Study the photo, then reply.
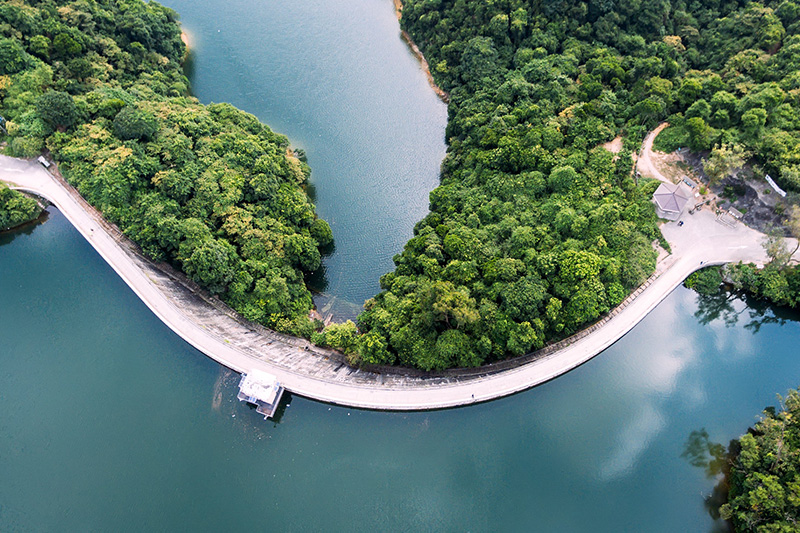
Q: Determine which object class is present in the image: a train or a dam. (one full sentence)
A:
This aerial view contains a dam.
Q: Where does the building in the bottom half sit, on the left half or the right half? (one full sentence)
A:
The building in the bottom half is on the left side of the image.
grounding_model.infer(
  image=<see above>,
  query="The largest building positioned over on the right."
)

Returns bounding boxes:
[646,184,690,220]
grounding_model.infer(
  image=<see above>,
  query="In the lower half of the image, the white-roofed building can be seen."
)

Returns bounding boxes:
[235,368,284,417]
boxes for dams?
[48,194,682,410]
